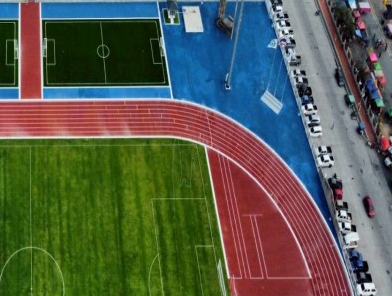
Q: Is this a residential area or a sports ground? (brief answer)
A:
sports ground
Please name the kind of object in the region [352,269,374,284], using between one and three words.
vehicle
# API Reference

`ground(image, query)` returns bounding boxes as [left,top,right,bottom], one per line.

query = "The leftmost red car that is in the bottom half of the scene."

[330,188,346,201]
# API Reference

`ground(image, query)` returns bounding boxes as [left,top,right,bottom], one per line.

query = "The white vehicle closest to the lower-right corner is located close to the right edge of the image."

[357,283,377,296]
